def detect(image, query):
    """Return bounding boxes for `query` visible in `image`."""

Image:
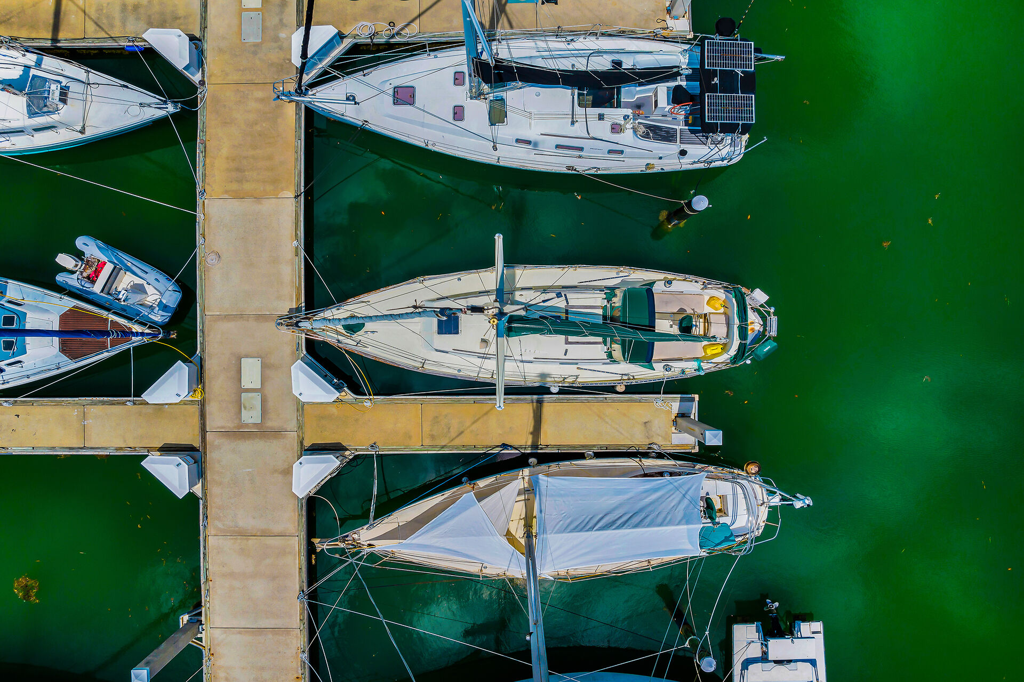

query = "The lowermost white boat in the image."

[731,601,827,682]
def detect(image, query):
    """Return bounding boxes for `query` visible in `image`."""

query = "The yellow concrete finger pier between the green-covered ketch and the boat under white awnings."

[303,348,699,502]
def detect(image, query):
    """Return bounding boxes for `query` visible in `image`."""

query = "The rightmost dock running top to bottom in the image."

[180,0,314,682]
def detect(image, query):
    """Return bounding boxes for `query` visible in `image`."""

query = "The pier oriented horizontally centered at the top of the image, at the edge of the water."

[304,0,693,90]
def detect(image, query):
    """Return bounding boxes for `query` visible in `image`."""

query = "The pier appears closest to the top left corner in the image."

[0,0,200,88]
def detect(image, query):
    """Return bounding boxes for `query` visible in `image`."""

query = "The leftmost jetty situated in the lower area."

[0,349,201,501]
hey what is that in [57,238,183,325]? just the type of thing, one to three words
boat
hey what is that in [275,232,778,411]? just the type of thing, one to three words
boat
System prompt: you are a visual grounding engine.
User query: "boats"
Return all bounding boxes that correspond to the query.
[57,238,183,325]
[0,275,176,391]
[731,601,827,682]
[0,33,181,157]
[414,659,709,682]
[311,455,812,682]
[275,232,778,411]
[270,0,785,178]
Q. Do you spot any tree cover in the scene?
No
